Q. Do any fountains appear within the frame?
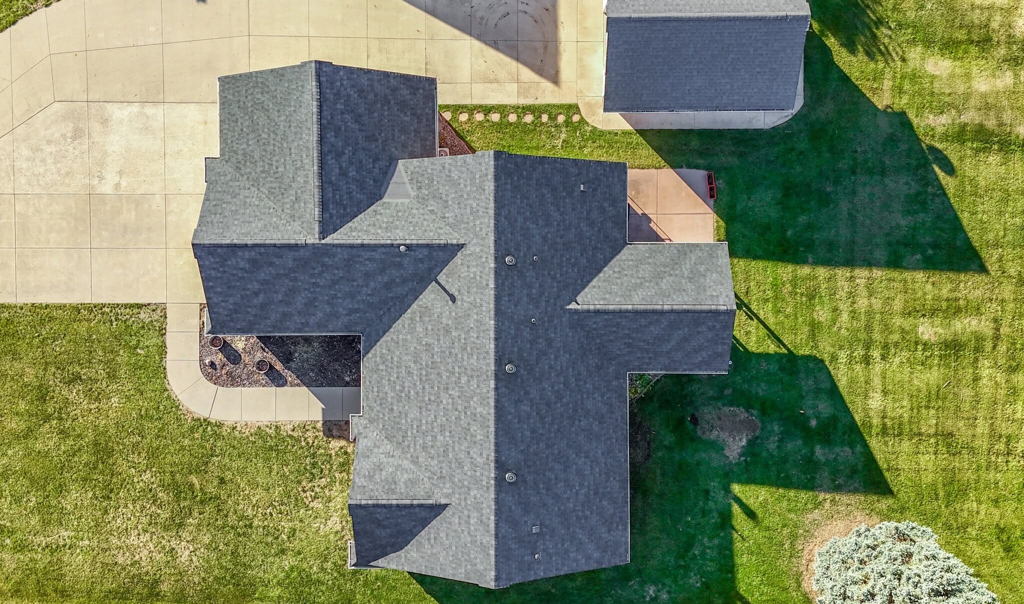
No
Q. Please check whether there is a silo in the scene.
No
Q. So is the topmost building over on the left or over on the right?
right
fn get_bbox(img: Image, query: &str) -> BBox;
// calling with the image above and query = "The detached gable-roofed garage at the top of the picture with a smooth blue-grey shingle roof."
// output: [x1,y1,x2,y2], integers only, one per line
[603,0,811,113]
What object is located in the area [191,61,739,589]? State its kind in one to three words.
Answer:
house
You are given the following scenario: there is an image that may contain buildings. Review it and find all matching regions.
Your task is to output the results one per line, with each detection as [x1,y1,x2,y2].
[191,61,739,589]
[603,0,811,113]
